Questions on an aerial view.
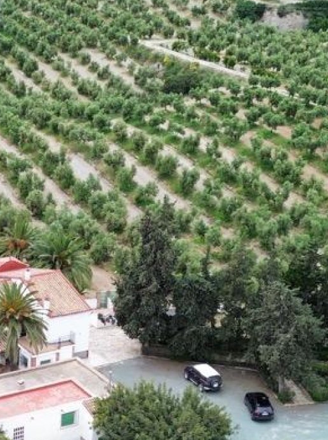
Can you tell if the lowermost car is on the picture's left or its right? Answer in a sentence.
The lowermost car sits on the right side.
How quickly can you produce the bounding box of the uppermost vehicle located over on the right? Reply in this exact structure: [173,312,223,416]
[185,365,225,394]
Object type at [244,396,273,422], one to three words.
car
